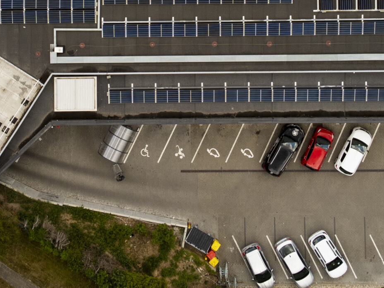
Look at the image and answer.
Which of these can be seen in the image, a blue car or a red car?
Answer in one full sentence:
There is a red car in the scene.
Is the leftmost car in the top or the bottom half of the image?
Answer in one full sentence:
The leftmost car is in the bottom half of the image.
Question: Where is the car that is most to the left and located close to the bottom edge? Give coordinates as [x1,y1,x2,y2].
[244,238,281,288]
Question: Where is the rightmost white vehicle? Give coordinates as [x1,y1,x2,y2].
[333,126,372,177]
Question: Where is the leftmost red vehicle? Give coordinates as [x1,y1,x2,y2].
[300,126,334,171]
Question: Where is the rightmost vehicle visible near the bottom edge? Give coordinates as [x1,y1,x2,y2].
[309,226,348,280]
